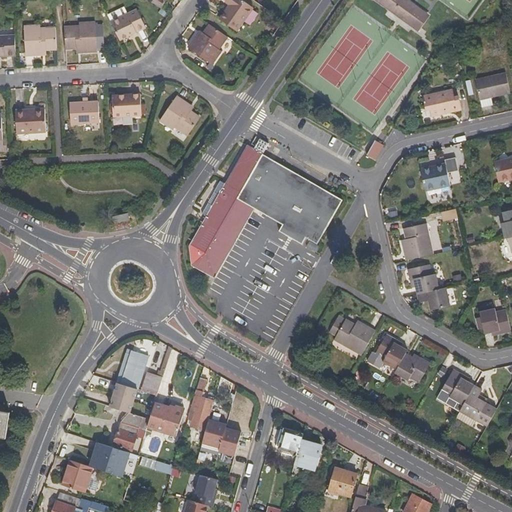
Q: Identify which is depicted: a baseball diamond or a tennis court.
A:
tennis court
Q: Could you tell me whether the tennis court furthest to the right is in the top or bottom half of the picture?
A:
top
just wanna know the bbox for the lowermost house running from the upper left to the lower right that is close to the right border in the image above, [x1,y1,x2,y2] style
[442,370,498,427]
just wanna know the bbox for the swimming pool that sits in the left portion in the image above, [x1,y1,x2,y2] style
[148,436,160,454]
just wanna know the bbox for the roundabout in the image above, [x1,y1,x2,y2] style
[109,260,156,306]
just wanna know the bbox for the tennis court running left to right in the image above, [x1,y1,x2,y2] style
[438,0,488,20]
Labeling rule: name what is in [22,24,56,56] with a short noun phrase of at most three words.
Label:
house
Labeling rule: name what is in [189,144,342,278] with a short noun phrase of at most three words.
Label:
building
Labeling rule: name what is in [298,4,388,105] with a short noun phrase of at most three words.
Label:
tennis court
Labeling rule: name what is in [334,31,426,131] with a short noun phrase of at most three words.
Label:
tennis court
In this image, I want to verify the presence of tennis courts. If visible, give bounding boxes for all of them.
[334,31,426,131]
[298,4,388,105]
[438,0,488,20]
